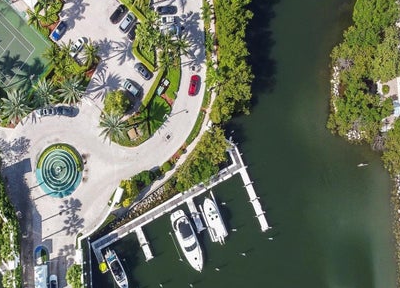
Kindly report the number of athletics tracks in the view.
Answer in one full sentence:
There are no athletics tracks in this view.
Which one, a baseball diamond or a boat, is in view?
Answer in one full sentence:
Looking from above, you can make out a boat.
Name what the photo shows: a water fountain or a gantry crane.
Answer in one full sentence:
Visible in the photo is a water fountain.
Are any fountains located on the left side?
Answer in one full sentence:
Yes, looking on the left side, one can make out a fountain.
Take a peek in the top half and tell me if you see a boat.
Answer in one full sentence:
No, in the top half there is no boat.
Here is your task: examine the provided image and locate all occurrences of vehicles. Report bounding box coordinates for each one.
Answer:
[49,20,69,43]
[68,37,88,59]
[156,3,178,17]
[48,275,58,288]
[55,104,76,119]
[153,77,171,99]
[159,14,179,26]
[108,2,129,27]
[186,74,201,97]
[132,61,153,82]
[125,23,144,44]
[118,11,138,36]
[36,106,56,118]
[120,76,142,99]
